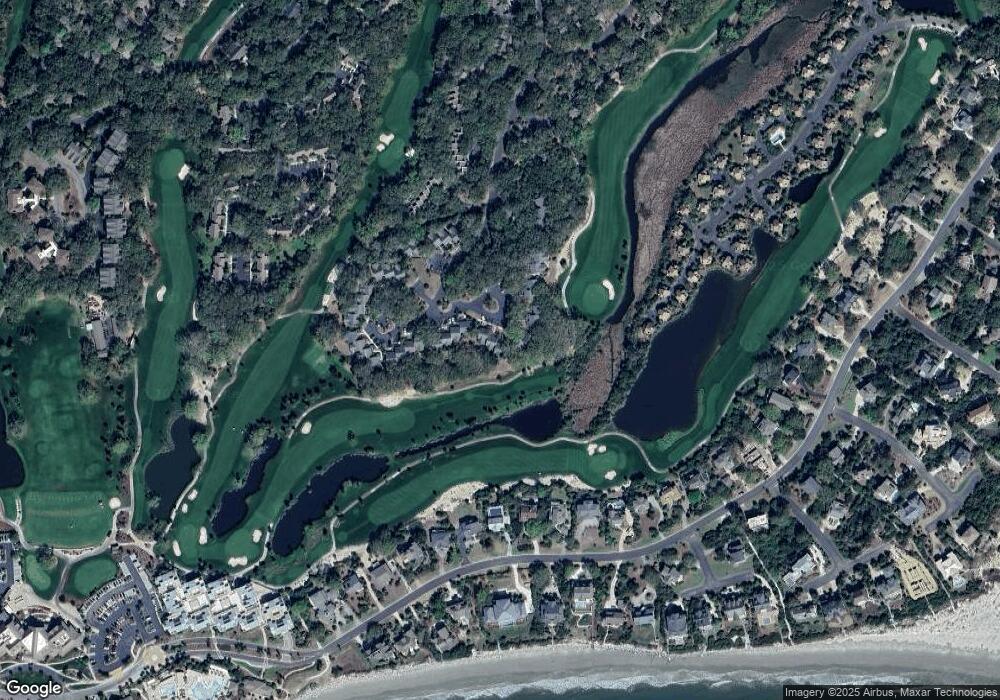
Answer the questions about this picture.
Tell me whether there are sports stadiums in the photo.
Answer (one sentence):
No, the photo shows no sports stadium.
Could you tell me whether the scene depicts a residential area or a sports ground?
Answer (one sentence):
What you see here is a residential area.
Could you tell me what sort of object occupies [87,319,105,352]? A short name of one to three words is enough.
building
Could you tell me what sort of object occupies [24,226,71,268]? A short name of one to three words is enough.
building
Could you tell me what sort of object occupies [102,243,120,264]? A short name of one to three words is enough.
house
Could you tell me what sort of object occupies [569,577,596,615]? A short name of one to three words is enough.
house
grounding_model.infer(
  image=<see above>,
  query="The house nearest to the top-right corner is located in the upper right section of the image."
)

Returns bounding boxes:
[965,47,999,77]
